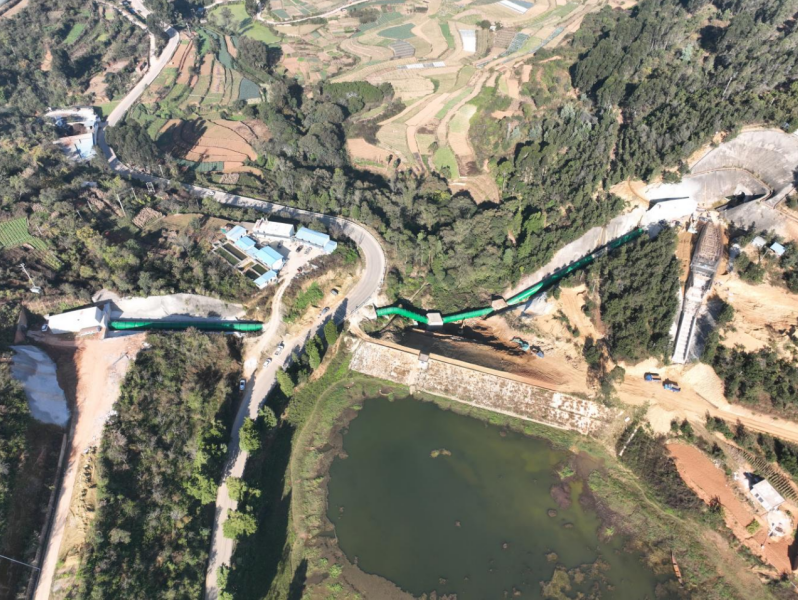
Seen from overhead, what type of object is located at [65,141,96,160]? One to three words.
house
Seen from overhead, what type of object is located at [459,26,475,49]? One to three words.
greenhouse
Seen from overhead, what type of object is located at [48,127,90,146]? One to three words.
house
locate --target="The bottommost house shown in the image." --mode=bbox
[752,480,791,510]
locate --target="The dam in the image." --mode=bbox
[348,329,630,441]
